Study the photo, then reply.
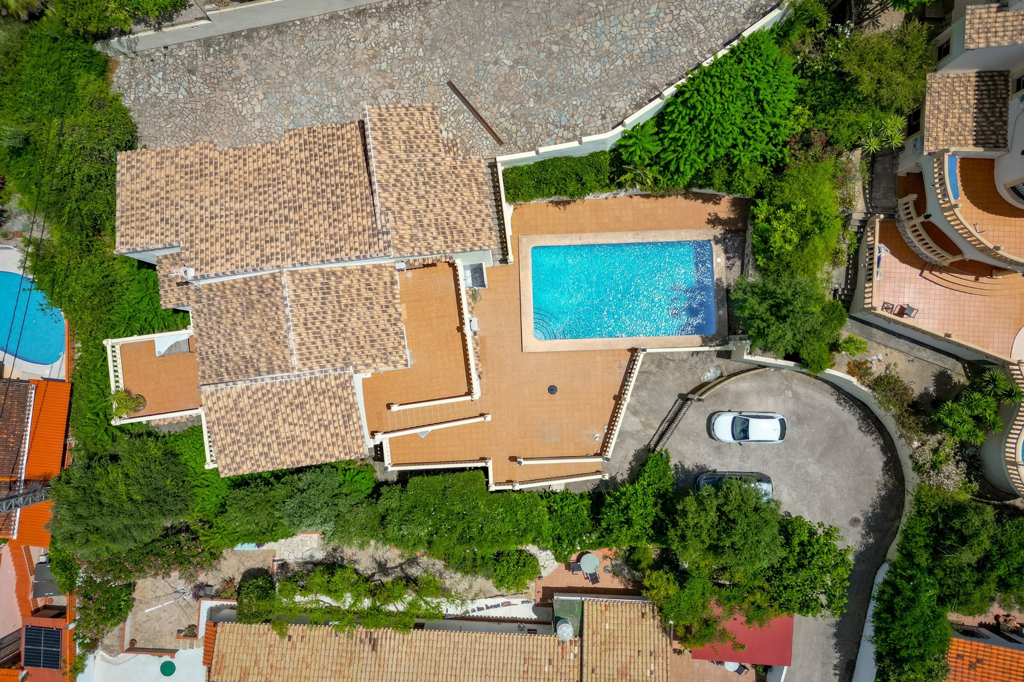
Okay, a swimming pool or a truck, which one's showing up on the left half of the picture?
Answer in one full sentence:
What appears on the left half of the picture is a swimming pool.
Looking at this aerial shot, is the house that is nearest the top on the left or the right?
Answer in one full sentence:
The house that is nearest the top is on the right side of the image.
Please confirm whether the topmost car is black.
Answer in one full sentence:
No, the topmost car is white.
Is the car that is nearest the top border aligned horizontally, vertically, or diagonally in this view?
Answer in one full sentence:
Seen from above, the car that is nearest the top border lies horizontally.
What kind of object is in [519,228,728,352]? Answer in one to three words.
swimming pool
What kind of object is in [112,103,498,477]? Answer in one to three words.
house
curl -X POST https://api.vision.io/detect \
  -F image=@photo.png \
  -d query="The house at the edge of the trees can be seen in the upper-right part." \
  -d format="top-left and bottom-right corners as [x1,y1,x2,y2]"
[883,3,1024,271]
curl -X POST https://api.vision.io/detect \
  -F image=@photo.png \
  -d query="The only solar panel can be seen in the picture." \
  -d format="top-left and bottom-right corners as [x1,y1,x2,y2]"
[23,621,62,669]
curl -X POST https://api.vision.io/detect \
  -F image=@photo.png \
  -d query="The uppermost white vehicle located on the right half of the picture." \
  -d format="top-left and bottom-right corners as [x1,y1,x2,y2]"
[710,408,788,447]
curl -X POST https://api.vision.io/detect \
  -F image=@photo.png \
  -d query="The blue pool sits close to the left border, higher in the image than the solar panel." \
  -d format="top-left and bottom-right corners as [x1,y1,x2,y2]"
[0,244,71,383]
